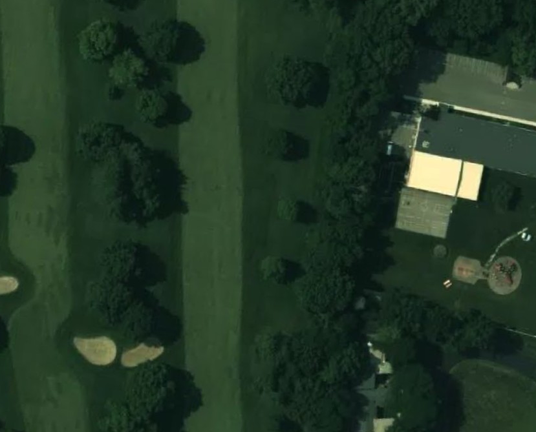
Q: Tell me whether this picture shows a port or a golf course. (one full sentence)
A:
The area seen from above is a golf course.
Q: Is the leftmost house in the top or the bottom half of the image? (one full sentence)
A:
The leftmost house is in the bottom half of the image.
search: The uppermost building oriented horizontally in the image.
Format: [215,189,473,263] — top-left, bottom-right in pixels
[415,109,536,177]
